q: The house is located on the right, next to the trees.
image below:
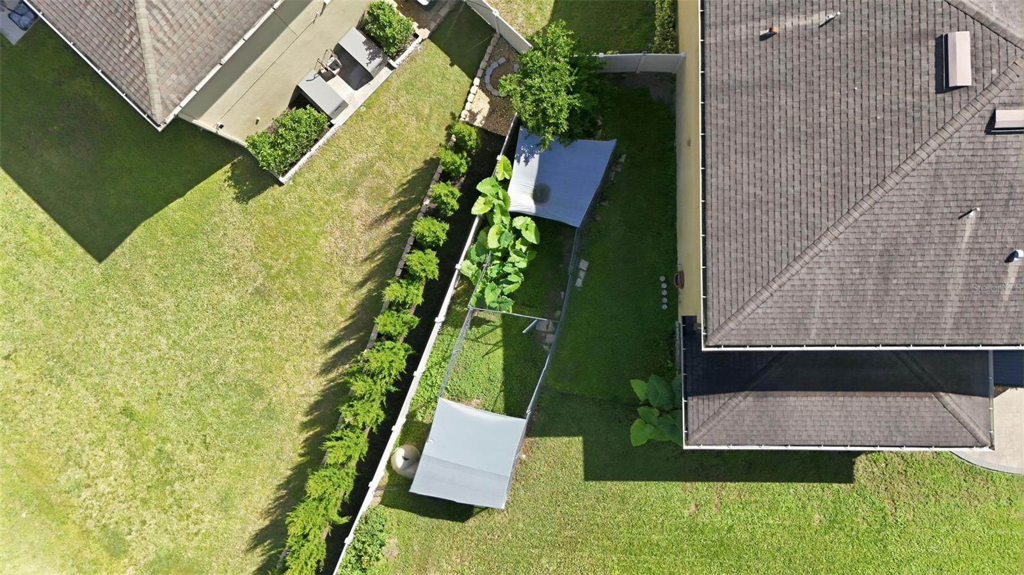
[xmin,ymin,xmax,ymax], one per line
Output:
[677,0,1024,452]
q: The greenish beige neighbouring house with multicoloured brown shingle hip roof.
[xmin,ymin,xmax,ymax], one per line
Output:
[23,0,384,149]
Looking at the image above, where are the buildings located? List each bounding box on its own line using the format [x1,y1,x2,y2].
[677,0,1024,452]
[23,0,384,149]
